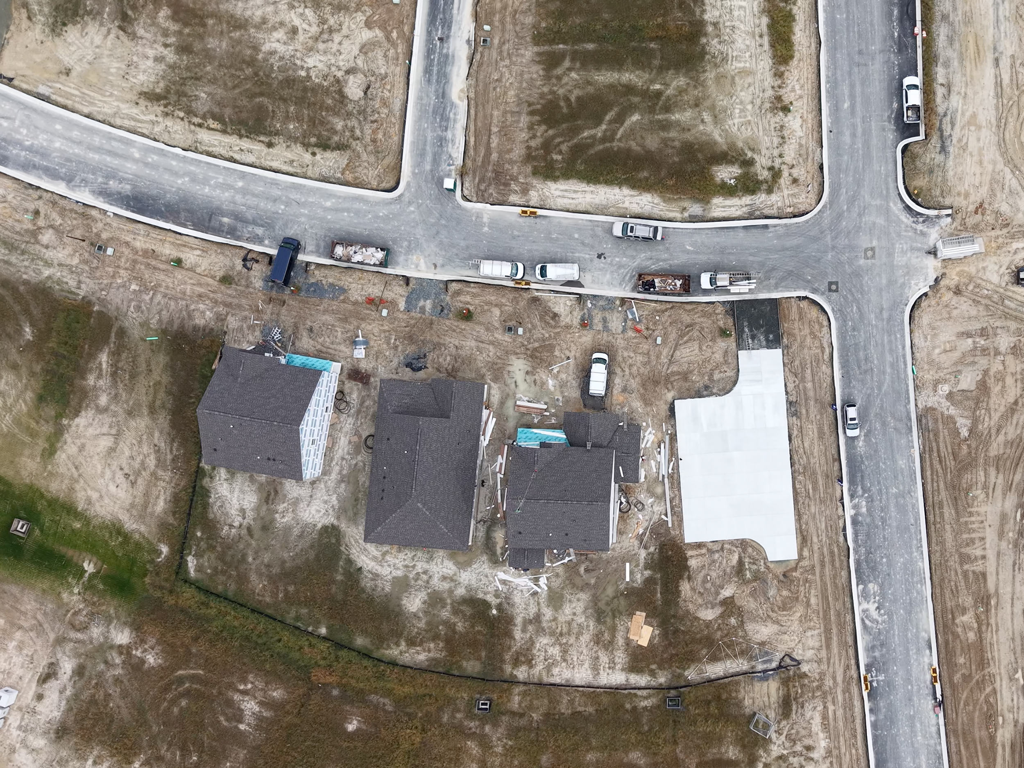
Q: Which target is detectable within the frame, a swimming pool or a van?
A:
van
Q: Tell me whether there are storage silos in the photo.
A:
No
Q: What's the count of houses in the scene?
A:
3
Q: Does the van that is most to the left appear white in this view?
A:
No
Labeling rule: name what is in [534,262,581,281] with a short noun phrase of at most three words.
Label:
vehicle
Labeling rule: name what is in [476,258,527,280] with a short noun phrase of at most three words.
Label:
vehicle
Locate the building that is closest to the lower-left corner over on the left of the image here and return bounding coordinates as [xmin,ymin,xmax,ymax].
[197,343,341,481]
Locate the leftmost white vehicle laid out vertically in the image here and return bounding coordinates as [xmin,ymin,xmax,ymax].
[590,351,610,398]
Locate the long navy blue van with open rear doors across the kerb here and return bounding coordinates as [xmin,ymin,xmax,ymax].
[259,236,303,288]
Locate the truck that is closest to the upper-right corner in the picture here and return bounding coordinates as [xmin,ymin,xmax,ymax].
[901,74,922,124]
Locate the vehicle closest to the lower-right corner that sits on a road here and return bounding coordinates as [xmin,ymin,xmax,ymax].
[843,401,862,438]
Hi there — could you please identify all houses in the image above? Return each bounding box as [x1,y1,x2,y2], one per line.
[364,378,487,551]
[197,343,341,481]
[506,412,642,568]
